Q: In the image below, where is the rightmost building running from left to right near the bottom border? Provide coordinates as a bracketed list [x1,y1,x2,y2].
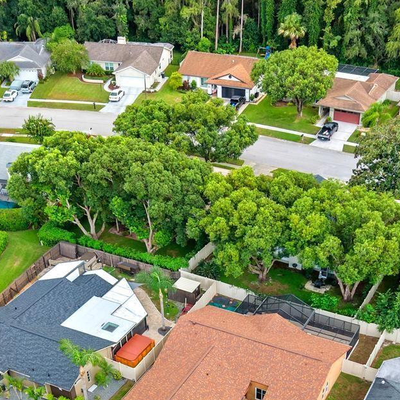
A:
[123,305,353,400]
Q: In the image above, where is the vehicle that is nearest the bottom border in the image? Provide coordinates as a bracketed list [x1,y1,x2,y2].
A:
[318,121,337,138]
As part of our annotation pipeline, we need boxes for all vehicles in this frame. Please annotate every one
[318,121,337,138]
[229,93,244,108]
[2,92,15,102]
[109,91,122,102]
[20,80,34,93]
[9,82,22,92]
